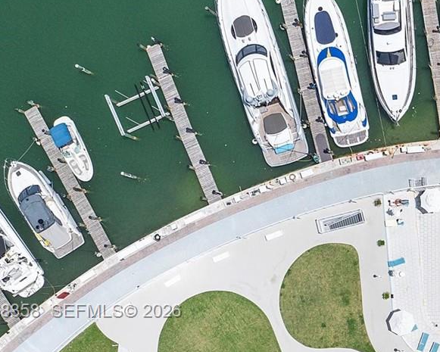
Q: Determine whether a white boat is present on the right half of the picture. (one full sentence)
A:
Yes, the scene does show a white boat on the right half of the picture.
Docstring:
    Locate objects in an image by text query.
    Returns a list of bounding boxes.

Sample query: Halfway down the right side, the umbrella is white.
[420,187,440,214]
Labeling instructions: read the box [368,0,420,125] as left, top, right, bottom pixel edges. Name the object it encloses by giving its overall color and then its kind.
white boat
